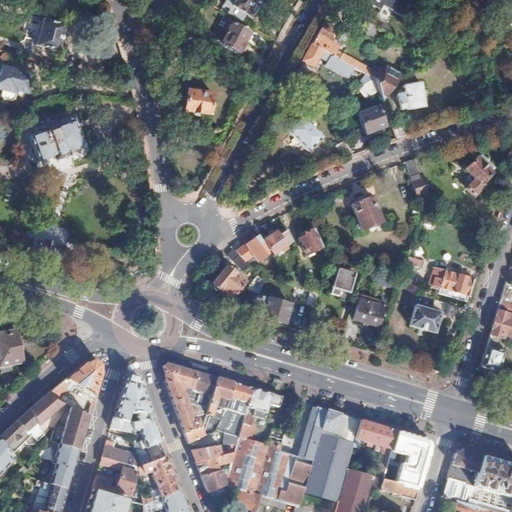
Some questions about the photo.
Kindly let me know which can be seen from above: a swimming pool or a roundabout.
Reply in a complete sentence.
Looking from above, you can make out a roundabout.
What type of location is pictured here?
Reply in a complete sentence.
The area seen from above is a residential area.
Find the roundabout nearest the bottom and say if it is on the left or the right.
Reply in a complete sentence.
The roundabout nearest the bottom sits on the left side.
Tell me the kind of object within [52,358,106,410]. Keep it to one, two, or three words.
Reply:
building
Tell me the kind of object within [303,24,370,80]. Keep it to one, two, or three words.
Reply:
house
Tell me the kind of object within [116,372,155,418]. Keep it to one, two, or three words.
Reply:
building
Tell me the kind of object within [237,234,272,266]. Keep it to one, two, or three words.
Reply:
house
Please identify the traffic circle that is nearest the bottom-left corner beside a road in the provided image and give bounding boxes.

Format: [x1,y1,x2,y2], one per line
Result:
[111,283,185,360]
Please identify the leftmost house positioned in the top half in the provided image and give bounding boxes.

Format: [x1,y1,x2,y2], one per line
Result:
[0,66,32,102]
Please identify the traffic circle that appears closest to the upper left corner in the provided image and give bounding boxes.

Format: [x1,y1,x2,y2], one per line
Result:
[167,214,208,255]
